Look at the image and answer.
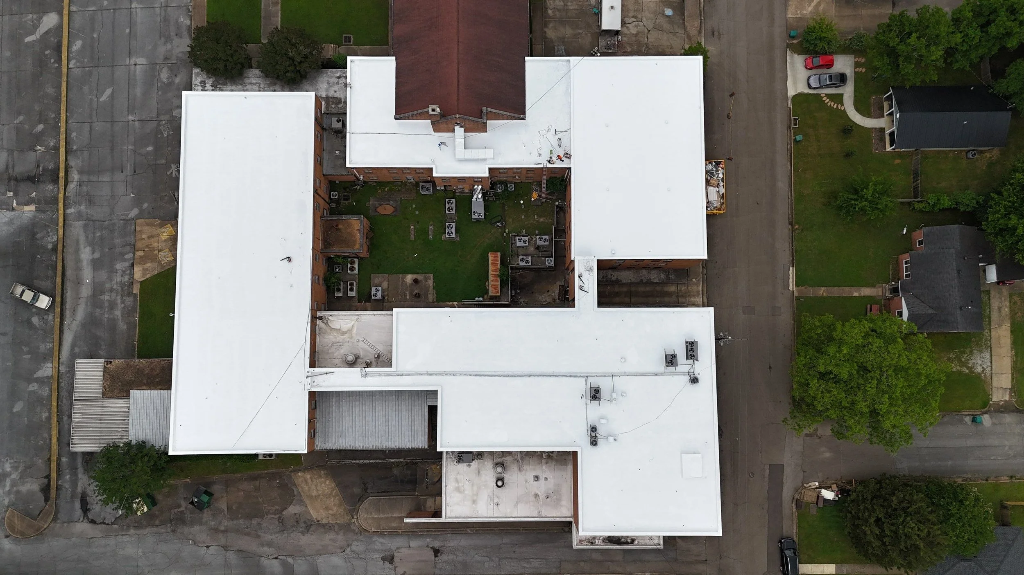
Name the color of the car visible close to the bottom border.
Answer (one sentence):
The color of the car visible close to the bottom border is black.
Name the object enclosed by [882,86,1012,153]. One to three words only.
house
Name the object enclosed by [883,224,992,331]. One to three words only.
house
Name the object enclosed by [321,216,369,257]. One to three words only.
shed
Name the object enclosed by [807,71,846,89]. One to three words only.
car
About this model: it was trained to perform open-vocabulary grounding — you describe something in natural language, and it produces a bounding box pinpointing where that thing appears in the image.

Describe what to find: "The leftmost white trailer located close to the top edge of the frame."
[599,0,621,38]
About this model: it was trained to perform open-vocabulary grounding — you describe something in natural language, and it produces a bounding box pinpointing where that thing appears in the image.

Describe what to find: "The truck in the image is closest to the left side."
[10,282,54,309]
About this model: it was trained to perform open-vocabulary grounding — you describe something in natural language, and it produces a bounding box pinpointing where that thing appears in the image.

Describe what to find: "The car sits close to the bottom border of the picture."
[776,536,799,575]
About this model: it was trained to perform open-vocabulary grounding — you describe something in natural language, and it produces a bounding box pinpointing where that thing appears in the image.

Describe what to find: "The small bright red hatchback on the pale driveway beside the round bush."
[802,53,834,71]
